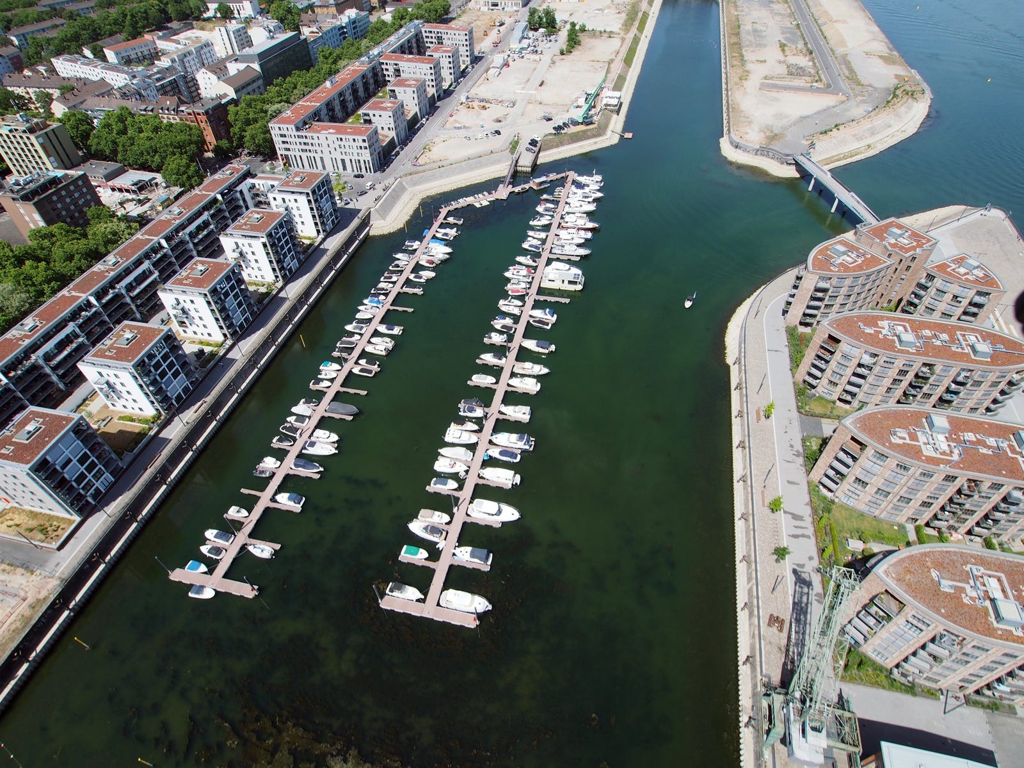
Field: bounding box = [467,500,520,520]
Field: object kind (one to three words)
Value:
boat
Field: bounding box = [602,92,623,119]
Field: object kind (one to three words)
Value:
building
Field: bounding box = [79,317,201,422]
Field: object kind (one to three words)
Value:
building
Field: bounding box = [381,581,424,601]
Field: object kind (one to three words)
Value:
boat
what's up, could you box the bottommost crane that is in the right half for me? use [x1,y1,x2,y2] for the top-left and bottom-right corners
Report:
[767,561,868,768]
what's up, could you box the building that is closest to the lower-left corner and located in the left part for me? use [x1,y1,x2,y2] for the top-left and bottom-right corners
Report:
[0,403,126,521]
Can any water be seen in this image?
Yes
